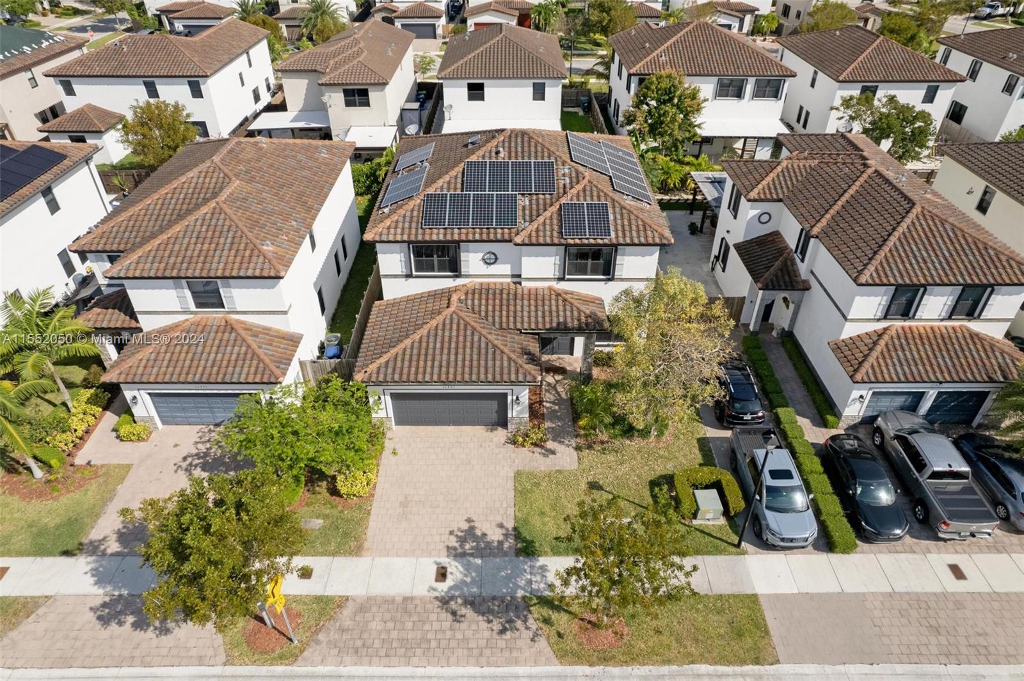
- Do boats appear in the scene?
No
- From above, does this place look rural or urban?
urban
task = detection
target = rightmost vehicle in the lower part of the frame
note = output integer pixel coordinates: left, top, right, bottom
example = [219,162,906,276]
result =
[958,436,1024,532]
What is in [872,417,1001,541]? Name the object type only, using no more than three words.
truck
